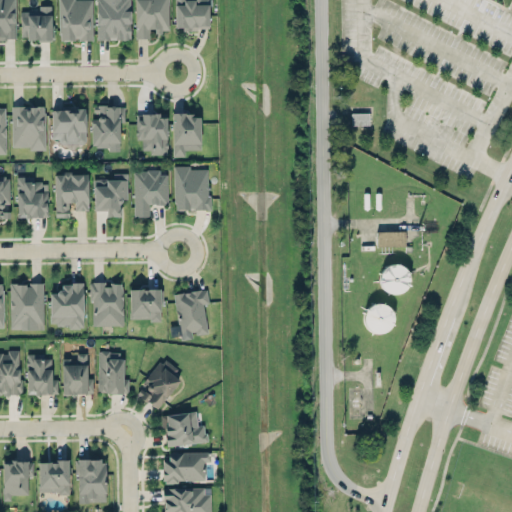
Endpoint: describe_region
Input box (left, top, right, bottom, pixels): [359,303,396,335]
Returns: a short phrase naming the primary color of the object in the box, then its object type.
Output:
white storage tank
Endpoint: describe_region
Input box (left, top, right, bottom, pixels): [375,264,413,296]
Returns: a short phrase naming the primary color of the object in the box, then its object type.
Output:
white storage tank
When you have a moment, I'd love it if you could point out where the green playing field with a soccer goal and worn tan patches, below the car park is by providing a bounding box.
[437,440,512,512]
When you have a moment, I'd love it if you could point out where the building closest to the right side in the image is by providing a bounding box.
[378,232,408,248]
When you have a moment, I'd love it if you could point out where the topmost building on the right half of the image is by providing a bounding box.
[350,110,373,128]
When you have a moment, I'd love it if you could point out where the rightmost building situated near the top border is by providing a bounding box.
[176,0,211,32]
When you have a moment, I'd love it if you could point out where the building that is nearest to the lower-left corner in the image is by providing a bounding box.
[3,462,34,502]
